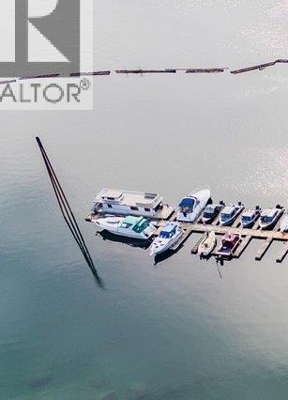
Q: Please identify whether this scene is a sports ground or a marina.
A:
marina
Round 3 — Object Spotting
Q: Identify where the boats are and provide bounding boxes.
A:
[204,201,224,223]
[220,202,245,225]
[261,204,286,230]
[149,226,190,257]
[200,231,215,257]
[92,187,178,220]
[90,215,162,242]
[218,231,236,259]
[242,207,264,227]
[177,186,210,222]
